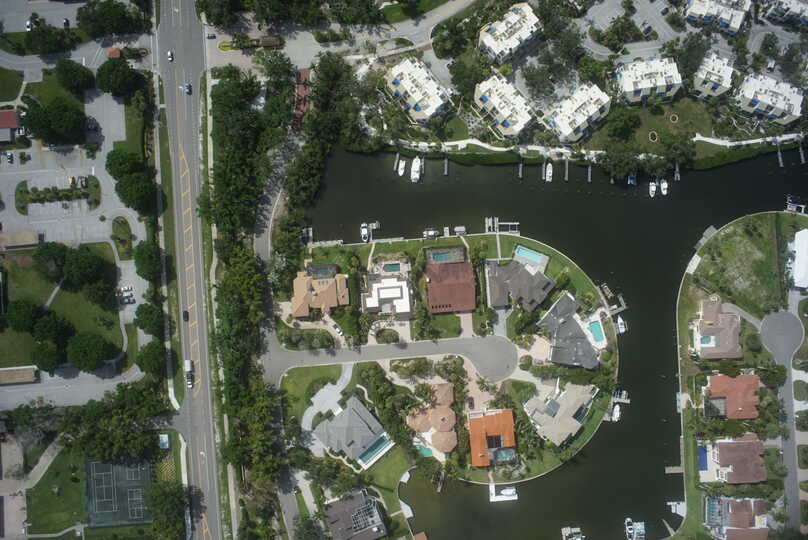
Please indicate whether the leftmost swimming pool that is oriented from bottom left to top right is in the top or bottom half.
bottom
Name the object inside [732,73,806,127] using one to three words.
building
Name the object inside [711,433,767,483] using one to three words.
house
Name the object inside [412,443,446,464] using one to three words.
swimming pool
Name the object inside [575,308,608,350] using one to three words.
swimming pool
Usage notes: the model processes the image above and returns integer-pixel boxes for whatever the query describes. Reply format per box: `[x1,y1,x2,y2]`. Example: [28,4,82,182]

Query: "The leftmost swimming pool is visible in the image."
[308,261,338,276]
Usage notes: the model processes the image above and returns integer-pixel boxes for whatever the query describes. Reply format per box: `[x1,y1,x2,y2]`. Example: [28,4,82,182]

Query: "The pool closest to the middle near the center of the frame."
[370,259,410,282]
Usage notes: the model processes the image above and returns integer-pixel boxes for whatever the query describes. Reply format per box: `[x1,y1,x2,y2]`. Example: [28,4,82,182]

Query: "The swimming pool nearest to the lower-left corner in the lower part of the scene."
[357,433,395,470]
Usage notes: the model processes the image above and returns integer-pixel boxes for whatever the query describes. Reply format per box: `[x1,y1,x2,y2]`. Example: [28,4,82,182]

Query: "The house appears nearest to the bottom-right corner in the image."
[725,497,769,540]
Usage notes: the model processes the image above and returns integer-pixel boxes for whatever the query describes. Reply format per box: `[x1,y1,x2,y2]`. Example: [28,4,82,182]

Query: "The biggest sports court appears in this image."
[84,458,152,527]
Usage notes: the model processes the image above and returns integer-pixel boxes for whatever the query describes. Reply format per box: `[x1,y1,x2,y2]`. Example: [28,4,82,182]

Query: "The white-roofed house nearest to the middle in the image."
[366,279,410,313]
